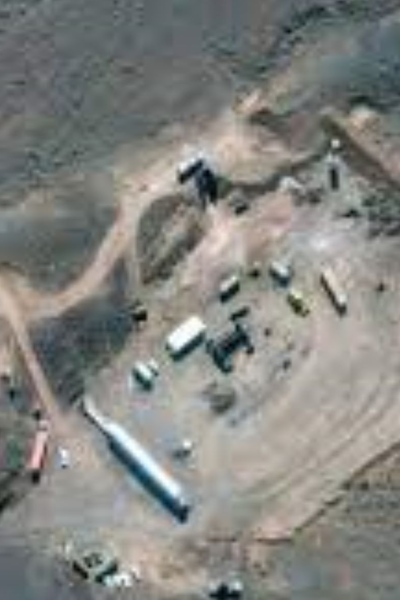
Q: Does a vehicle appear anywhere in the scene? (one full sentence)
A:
Yes, there's a vehicle here.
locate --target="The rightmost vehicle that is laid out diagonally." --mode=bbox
[318,270,348,310]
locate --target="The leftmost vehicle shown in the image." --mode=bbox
[31,422,49,468]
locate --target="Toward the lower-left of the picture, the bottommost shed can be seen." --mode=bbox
[75,544,114,583]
